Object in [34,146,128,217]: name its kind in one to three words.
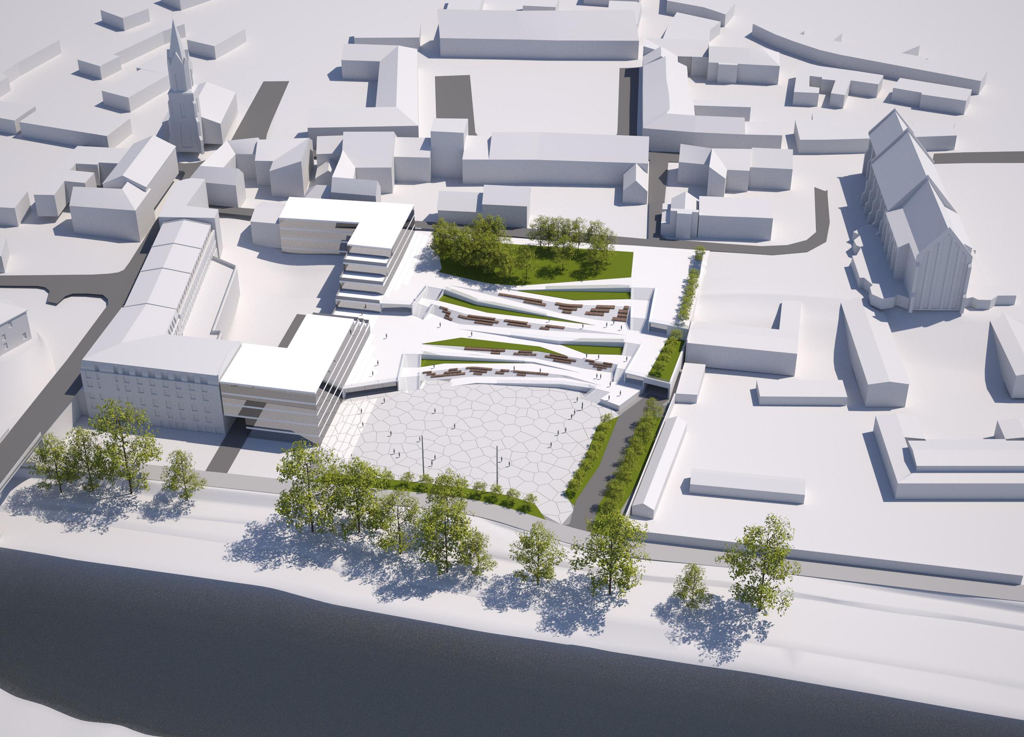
building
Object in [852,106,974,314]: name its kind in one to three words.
church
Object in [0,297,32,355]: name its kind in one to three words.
house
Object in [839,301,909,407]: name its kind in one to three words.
building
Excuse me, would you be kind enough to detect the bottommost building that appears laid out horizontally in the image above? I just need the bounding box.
[689,477,805,504]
